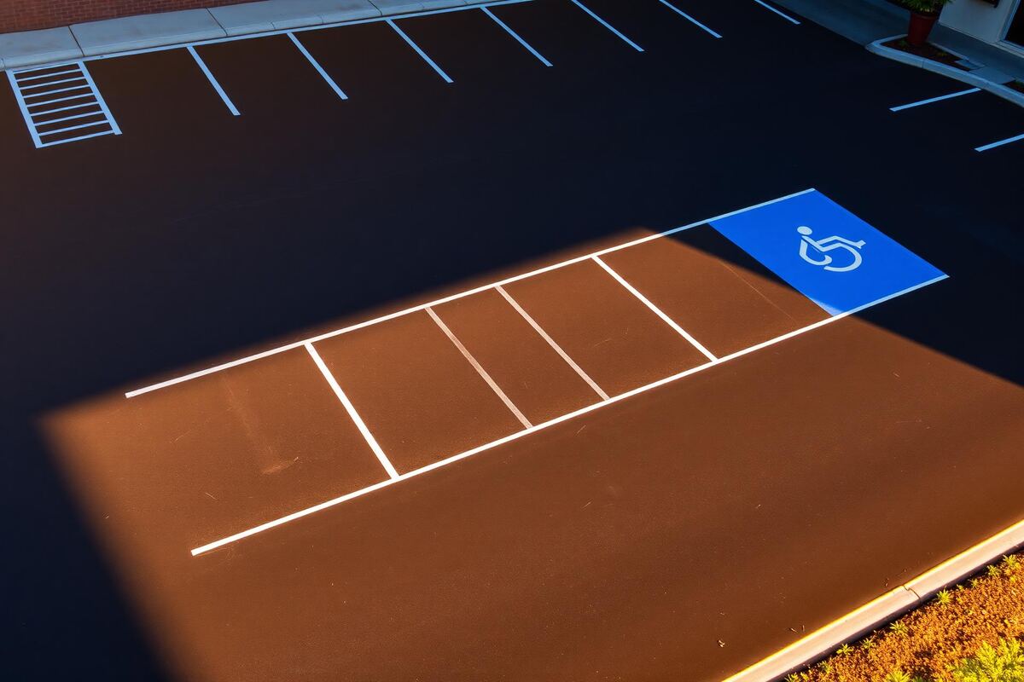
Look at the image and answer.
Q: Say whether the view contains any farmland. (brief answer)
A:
No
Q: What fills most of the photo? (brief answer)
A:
paved ground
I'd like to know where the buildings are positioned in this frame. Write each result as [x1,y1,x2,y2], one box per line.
[937,0,1024,58]
[0,0,258,35]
